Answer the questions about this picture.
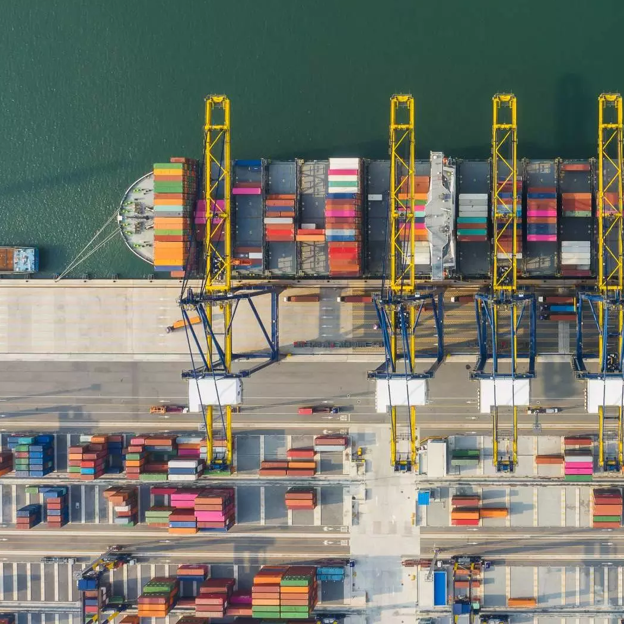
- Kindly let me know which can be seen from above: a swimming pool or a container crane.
container crane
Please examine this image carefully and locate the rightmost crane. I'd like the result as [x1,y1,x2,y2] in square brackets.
[557,91,624,468]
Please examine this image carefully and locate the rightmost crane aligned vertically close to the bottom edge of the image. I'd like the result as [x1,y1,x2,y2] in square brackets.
[450,557,479,624]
